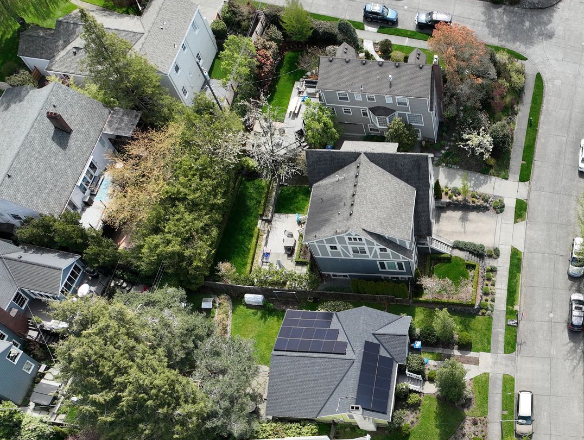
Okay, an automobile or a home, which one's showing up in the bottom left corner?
home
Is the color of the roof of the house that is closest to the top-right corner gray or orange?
gray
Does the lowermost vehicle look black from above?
No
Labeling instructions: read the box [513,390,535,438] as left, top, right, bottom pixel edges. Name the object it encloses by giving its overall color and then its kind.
white vehicle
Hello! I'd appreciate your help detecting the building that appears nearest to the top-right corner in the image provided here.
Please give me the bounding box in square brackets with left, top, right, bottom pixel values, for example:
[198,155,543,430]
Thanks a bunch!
[317,42,446,138]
